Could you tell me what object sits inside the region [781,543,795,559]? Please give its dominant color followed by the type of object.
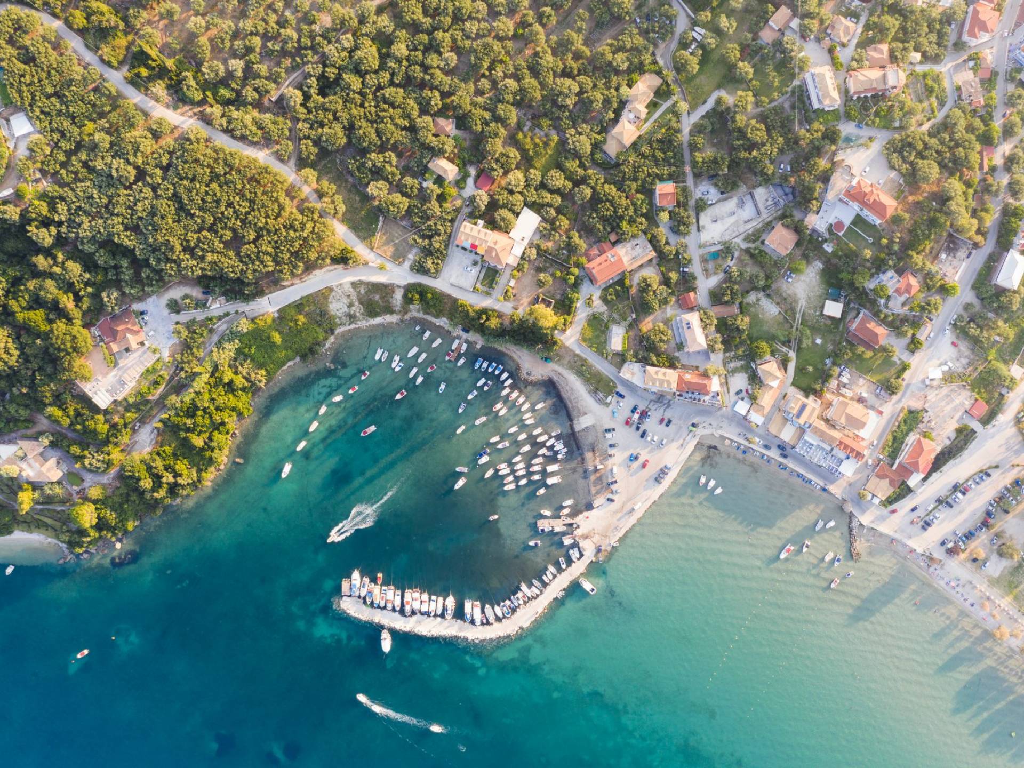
white boat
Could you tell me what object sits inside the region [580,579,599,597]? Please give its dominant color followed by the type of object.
white boat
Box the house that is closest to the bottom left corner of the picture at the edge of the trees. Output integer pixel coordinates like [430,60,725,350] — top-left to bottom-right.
[0,439,70,482]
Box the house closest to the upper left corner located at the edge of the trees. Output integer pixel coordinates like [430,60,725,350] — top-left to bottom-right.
[2,110,36,148]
